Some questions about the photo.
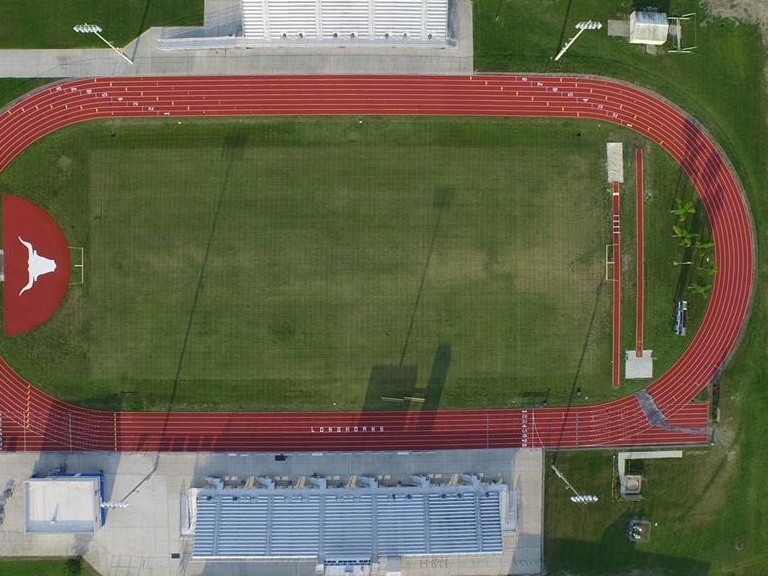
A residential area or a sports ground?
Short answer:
sports ground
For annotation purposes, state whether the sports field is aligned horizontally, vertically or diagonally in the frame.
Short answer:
horizontally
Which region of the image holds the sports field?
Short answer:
center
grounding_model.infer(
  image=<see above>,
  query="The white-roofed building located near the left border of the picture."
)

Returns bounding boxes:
[23,472,104,534]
